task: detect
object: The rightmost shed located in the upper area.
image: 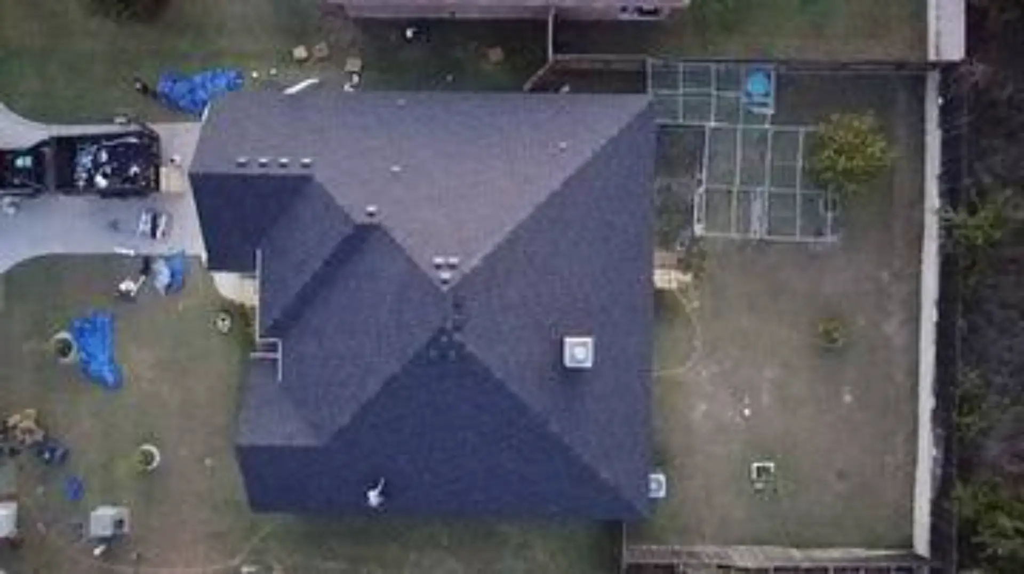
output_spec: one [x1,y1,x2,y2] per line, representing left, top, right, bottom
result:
[921,0,967,68]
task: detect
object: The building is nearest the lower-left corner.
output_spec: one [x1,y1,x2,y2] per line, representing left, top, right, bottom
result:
[189,88,654,520]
